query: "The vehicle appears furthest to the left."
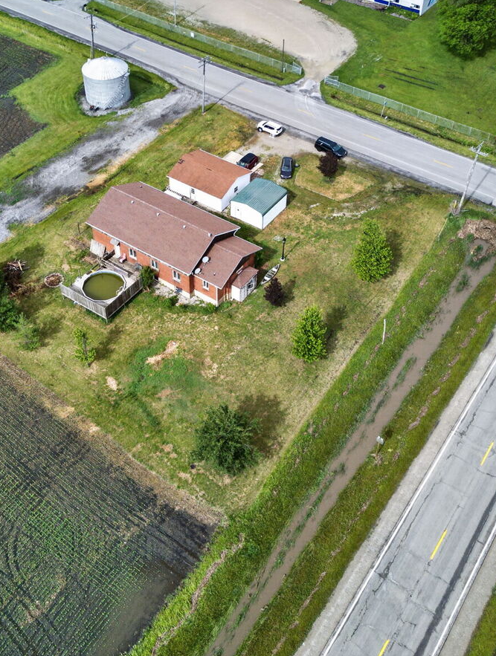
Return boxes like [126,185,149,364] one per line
[235,149,260,169]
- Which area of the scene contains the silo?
top left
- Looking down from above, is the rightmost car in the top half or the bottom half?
top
